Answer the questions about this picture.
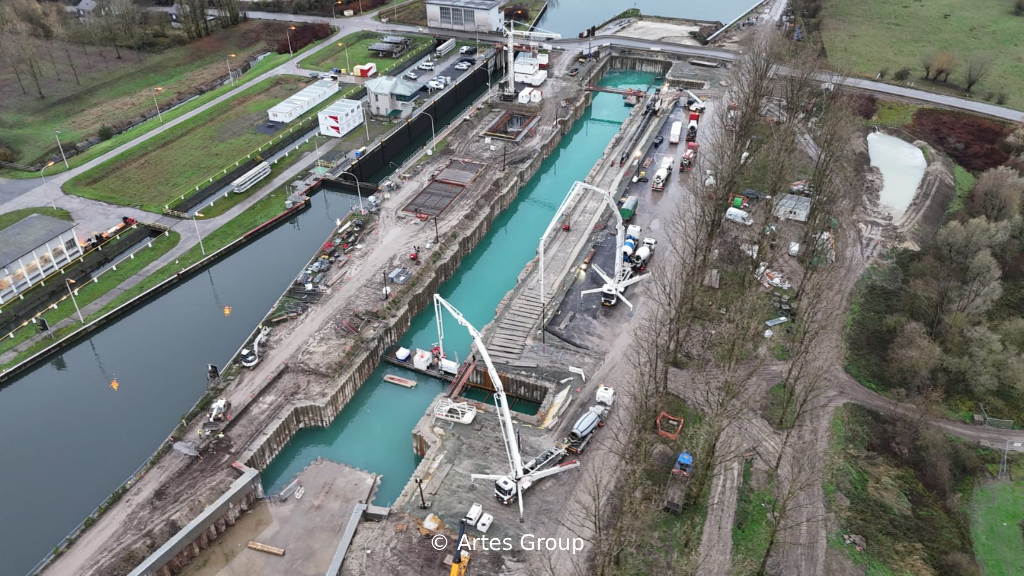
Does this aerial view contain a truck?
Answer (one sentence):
Yes, there's a truck down there.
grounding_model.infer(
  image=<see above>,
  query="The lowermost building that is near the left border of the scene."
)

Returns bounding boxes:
[0,215,88,311]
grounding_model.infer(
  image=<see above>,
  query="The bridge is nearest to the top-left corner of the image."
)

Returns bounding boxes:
[140,207,189,235]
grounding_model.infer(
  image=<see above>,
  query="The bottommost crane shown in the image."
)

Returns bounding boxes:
[449,516,471,576]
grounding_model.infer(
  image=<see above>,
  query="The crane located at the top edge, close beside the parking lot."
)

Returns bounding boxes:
[496,7,567,104]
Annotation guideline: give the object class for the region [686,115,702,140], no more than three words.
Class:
vehicle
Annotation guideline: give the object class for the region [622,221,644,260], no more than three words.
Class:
truck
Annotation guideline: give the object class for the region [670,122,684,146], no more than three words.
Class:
vehicle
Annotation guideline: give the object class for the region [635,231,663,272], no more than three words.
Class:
truck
